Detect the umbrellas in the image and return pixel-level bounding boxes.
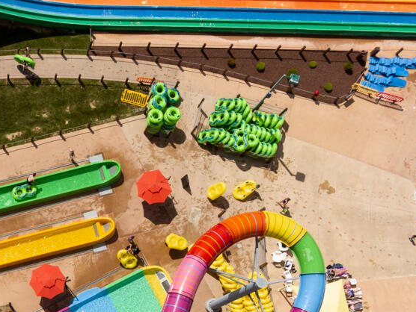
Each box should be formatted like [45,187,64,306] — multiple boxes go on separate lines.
[134,172,169,206]
[32,265,65,299]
